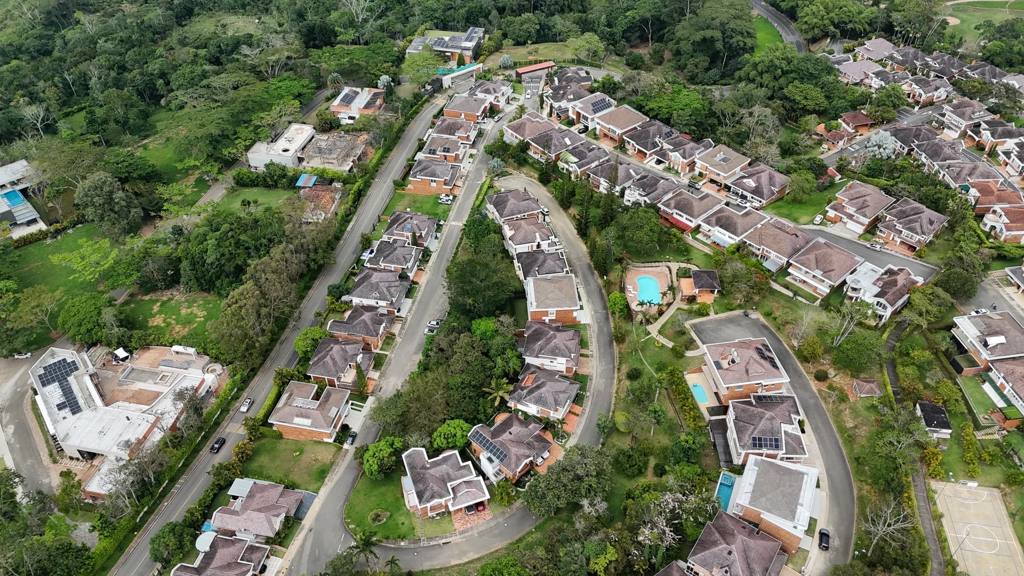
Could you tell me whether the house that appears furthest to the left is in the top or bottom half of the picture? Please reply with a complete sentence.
The bottom half of the photo is where the house that appears furthest to the left is.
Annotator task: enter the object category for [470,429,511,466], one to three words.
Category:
solar array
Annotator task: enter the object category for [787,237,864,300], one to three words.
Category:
house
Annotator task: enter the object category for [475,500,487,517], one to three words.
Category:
vehicle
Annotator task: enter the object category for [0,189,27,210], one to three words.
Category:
swimming pool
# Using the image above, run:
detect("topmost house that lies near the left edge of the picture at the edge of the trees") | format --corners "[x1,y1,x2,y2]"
[28,345,221,503]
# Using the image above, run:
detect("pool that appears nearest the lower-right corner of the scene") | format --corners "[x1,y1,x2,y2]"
[713,471,738,514]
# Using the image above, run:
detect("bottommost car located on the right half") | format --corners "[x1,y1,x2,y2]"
[819,528,831,551]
